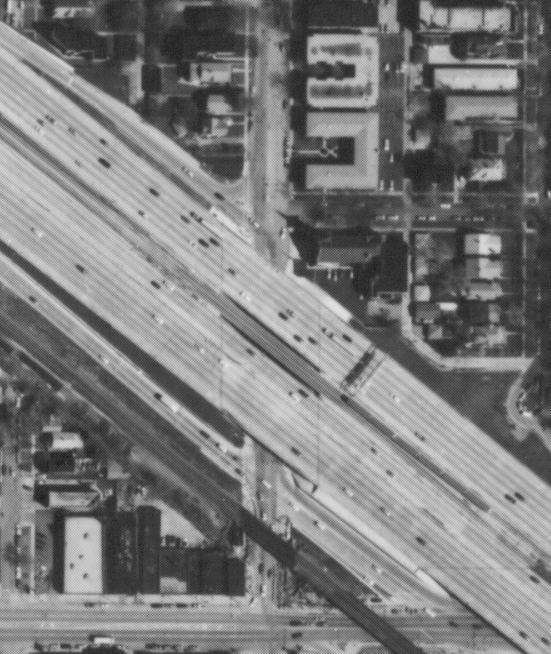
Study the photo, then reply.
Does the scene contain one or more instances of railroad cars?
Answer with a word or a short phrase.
No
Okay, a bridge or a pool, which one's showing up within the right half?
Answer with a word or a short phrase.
bridge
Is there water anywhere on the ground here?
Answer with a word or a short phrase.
No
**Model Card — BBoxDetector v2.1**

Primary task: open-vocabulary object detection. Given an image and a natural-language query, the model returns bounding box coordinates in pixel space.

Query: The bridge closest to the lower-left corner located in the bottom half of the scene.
[238,506,292,568]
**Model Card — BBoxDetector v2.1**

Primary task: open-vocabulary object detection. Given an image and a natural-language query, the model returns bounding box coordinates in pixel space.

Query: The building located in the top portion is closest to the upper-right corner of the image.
[485,6,511,30]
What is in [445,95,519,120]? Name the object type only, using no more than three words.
building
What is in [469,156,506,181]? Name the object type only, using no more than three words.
house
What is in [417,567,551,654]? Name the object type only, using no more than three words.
overpass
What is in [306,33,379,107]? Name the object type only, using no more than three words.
building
